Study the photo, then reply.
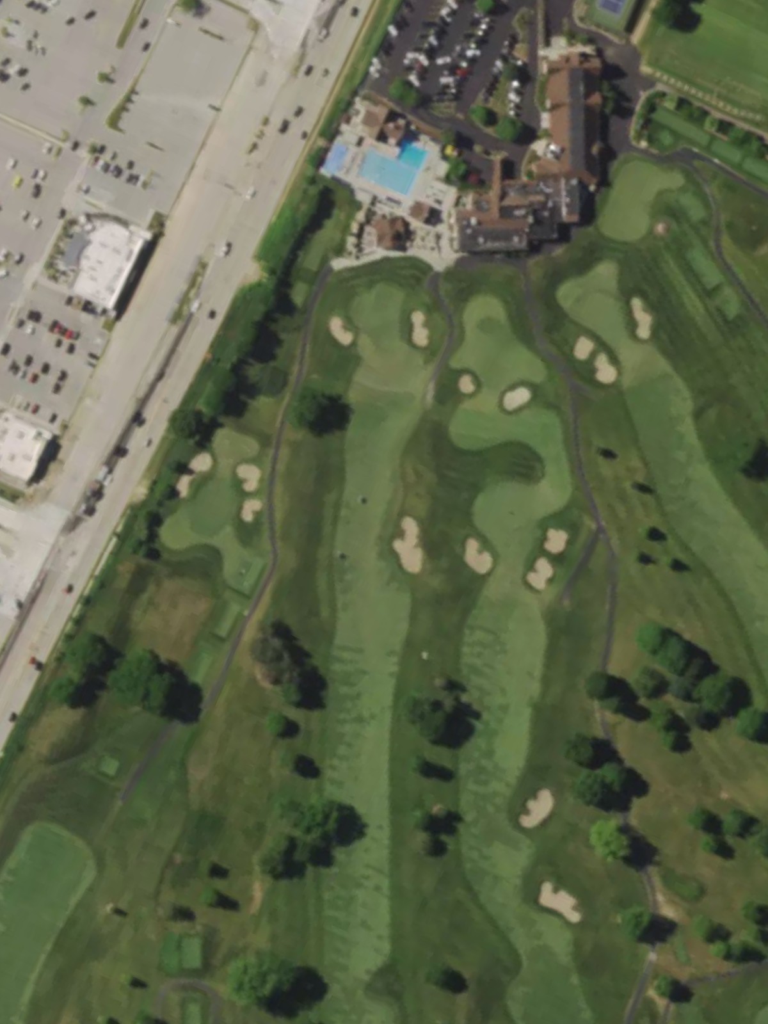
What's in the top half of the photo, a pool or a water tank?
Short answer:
pool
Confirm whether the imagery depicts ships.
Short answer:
No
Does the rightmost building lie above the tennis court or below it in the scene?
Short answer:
below it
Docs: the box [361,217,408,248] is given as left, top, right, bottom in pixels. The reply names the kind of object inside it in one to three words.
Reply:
building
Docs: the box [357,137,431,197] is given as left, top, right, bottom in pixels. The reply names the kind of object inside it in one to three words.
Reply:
swimming pool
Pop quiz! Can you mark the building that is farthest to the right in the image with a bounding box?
[457,51,604,254]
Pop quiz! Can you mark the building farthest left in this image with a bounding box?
[0,408,52,483]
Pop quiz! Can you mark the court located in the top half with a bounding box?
[575,0,642,39]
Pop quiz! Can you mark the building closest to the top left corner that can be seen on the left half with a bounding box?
[63,213,152,316]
